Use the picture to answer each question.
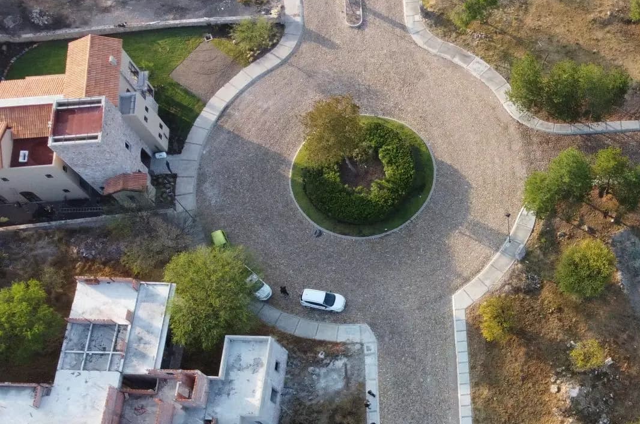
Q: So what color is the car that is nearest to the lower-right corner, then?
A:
white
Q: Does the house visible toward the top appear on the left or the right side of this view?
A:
left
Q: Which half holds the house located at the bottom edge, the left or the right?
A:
left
